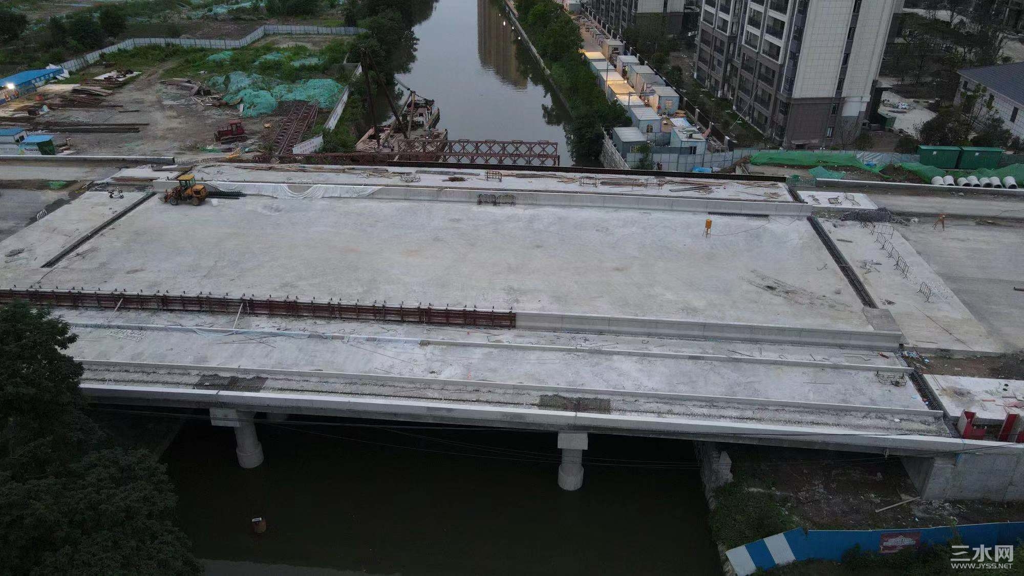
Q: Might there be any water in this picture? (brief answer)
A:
Yes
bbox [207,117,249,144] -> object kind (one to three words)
work vehicle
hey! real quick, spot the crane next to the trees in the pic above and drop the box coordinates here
[359,47,431,149]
